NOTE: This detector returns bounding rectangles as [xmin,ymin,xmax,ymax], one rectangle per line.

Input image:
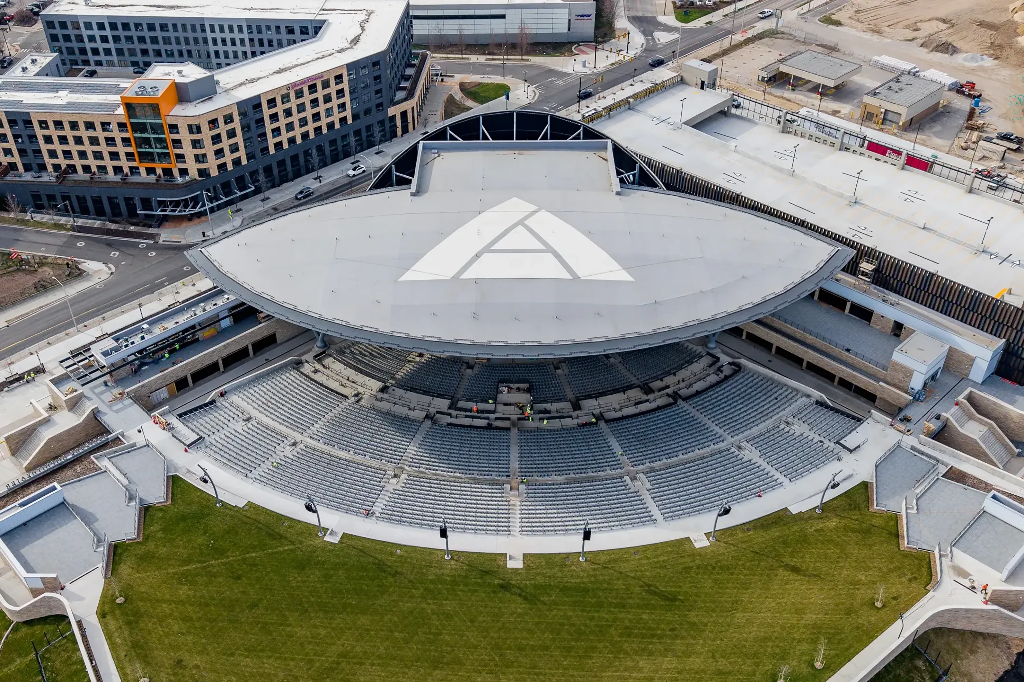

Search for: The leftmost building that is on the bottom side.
[0,481,68,539]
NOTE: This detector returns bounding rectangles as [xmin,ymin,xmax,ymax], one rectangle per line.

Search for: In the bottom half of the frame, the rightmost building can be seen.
[979,489,1024,542]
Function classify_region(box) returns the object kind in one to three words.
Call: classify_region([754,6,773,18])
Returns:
vehicle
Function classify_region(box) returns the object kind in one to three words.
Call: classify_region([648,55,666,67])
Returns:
vehicle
